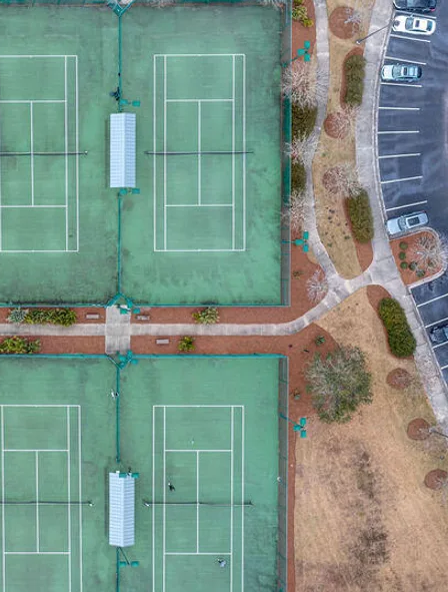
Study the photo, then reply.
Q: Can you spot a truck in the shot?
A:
No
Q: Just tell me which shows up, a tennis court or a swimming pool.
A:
tennis court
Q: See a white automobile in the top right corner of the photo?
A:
Yes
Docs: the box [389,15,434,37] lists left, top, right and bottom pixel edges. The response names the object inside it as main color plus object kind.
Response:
white car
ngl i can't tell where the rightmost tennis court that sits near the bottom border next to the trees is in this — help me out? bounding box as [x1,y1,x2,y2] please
[117,356,279,592]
